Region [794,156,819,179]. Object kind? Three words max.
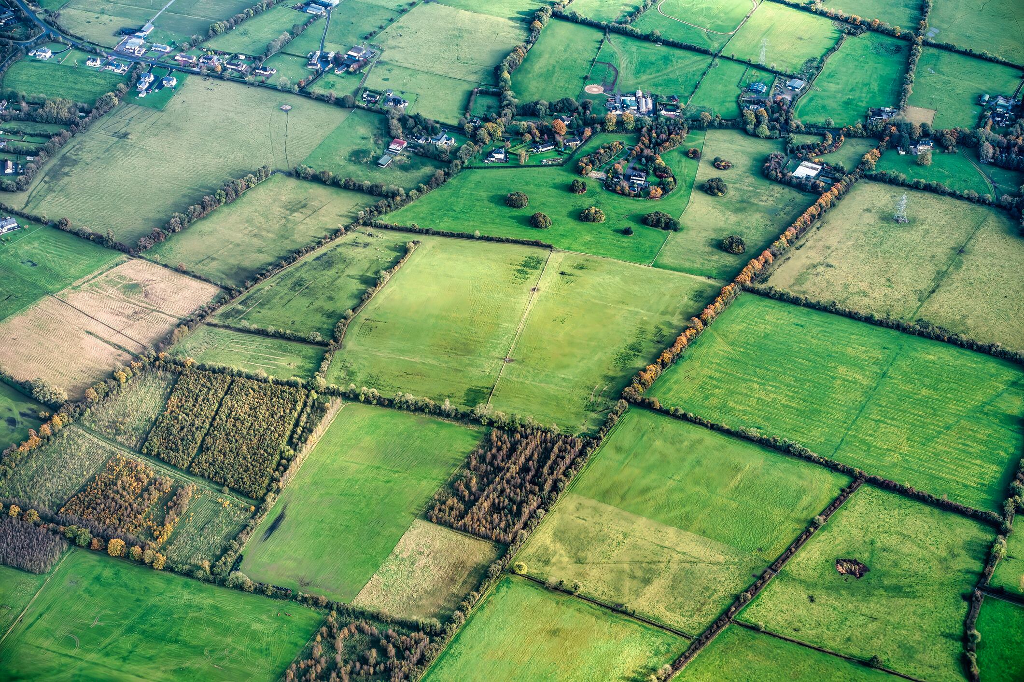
building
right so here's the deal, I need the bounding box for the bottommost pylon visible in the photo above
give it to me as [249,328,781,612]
[894,191,912,225]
